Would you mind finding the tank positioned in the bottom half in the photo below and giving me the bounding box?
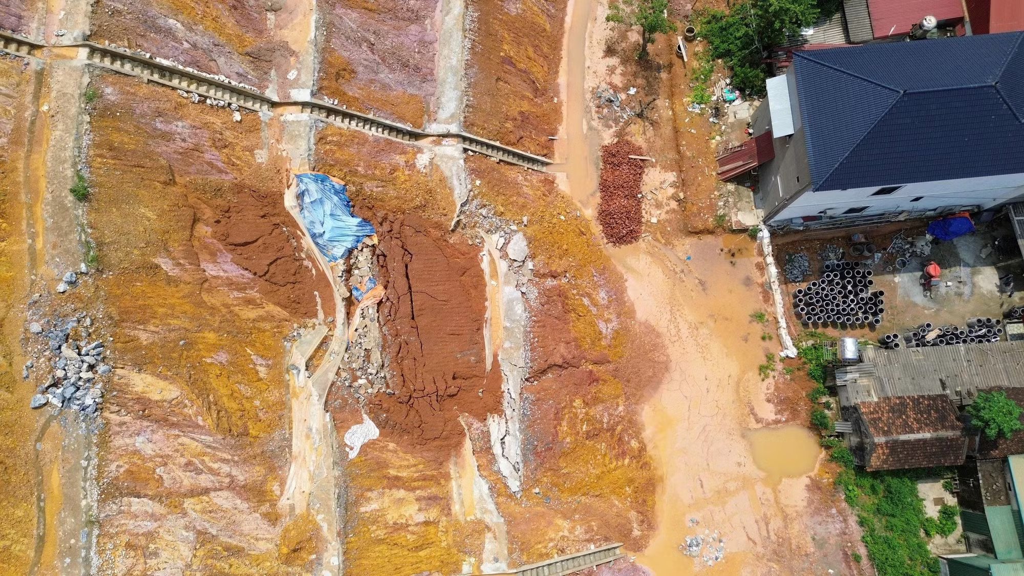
[829,337,858,365]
